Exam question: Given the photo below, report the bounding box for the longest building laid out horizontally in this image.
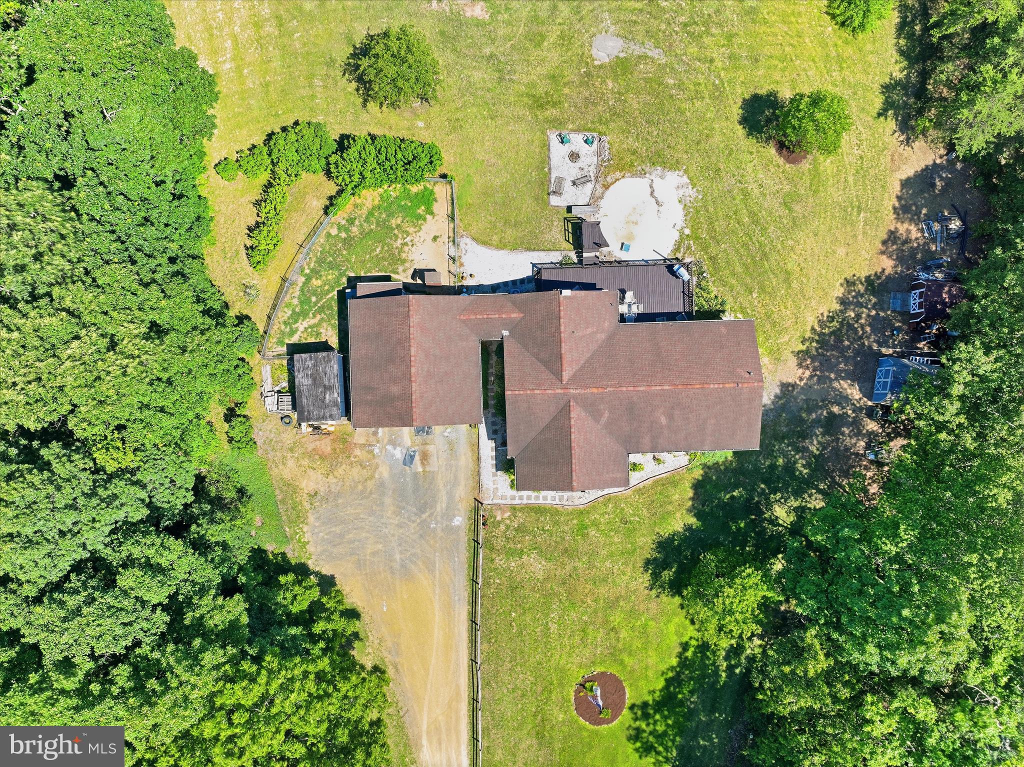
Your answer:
[346,281,765,492]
